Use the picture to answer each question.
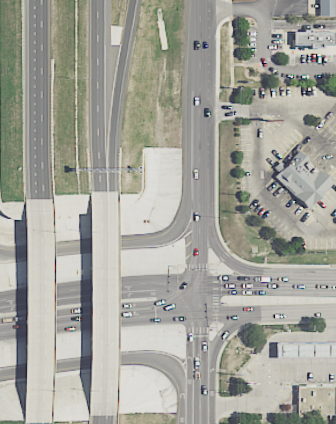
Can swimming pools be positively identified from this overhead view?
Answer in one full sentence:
No, I find no swimming pool anywhere in the image.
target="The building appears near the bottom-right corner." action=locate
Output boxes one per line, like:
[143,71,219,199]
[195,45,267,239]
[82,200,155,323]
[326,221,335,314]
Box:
[298,384,336,418]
